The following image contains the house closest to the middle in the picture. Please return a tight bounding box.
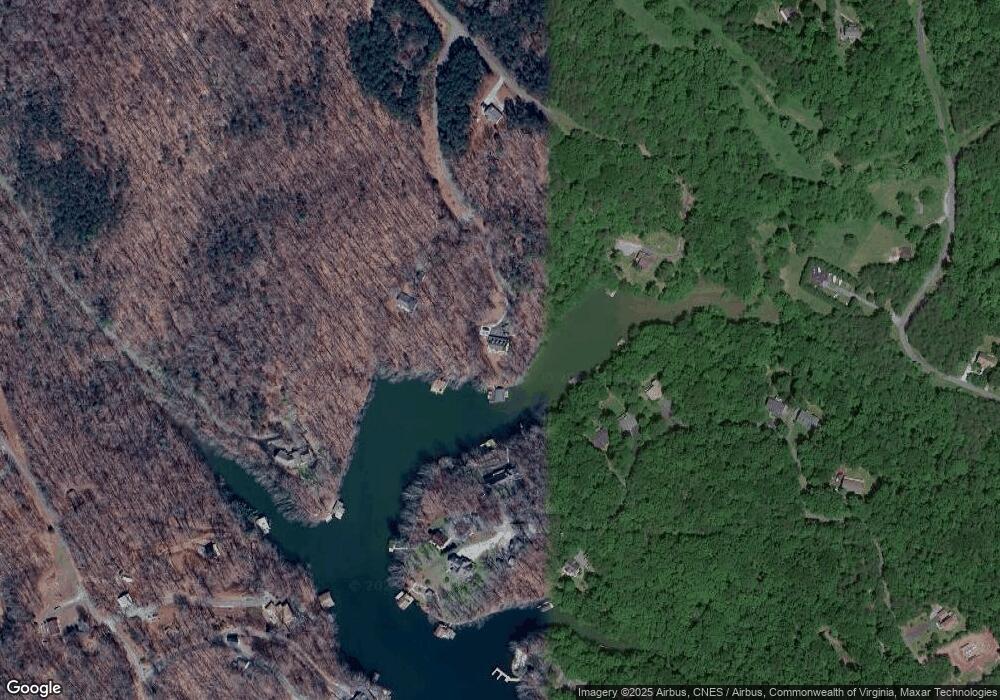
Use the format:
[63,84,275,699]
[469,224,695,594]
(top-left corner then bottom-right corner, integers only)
[488,337,509,355]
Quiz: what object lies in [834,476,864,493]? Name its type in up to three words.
house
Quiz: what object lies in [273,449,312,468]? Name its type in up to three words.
house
